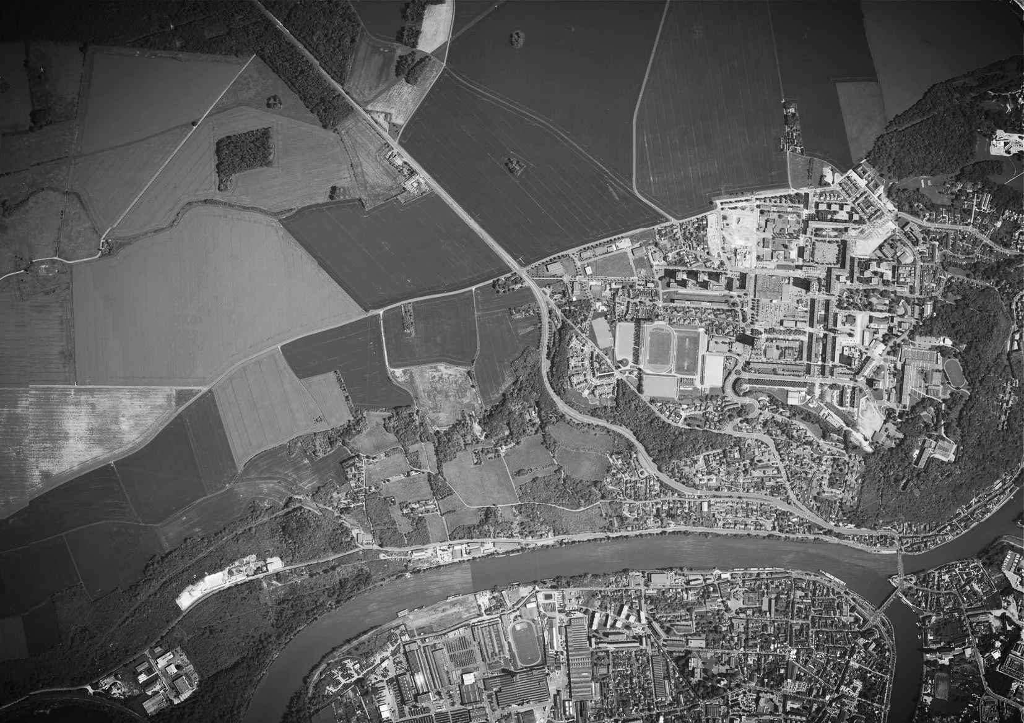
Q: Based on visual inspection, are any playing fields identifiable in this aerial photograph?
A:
Yes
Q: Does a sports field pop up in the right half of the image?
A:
Yes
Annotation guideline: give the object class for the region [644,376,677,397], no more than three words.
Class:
sports field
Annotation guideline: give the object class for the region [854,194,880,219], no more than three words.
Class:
building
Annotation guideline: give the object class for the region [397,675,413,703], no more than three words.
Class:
building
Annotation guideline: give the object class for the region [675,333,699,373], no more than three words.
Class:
sports field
